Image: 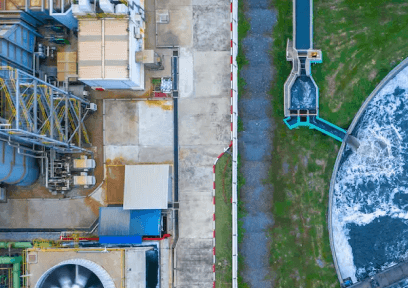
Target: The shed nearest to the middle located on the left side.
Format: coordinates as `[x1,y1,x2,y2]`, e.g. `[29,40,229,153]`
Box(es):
[123,164,175,209]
